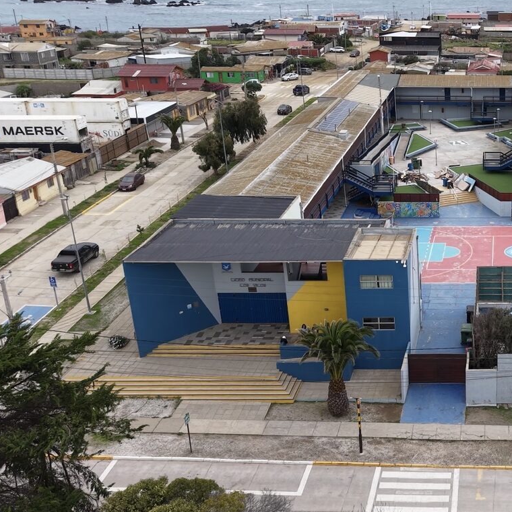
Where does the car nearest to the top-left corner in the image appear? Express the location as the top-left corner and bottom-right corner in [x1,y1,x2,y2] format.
[119,170,146,187]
